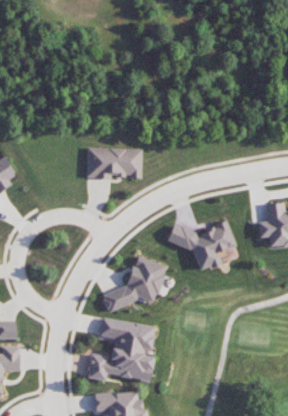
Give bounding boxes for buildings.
[260,202,288,250]
[0,323,18,340]
[90,392,148,416]
[89,316,162,386]
[103,256,172,314]
[170,225,238,270]
[0,158,16,192]
[88,148,144,180]
[0,347,20,382]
